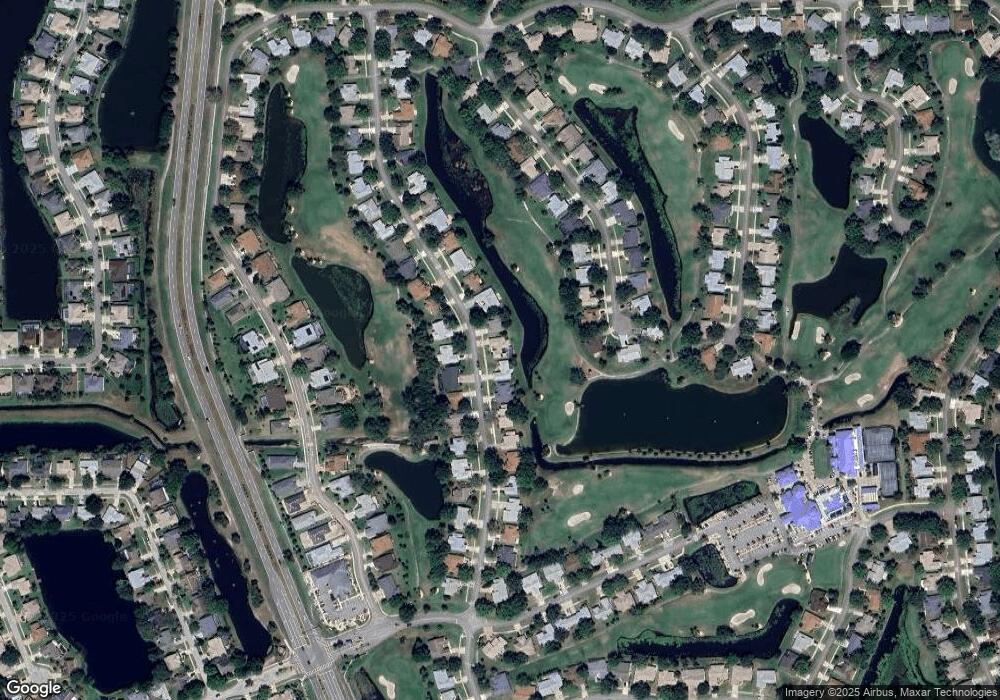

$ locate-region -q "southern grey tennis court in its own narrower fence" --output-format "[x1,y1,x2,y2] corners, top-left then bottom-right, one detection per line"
[879,463,899,497]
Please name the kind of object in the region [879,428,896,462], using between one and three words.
tennis court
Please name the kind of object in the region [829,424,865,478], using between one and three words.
building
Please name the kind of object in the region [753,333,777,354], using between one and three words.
house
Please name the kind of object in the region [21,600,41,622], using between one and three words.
house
